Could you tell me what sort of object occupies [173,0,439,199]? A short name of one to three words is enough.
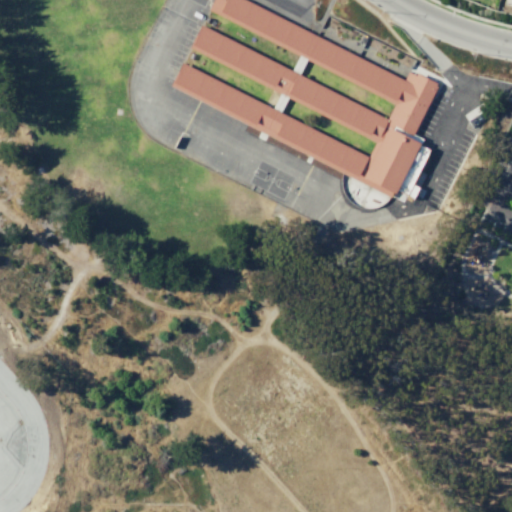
building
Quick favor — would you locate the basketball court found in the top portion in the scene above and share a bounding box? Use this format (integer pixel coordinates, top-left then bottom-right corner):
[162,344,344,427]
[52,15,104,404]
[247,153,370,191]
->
[252,162,296,200]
